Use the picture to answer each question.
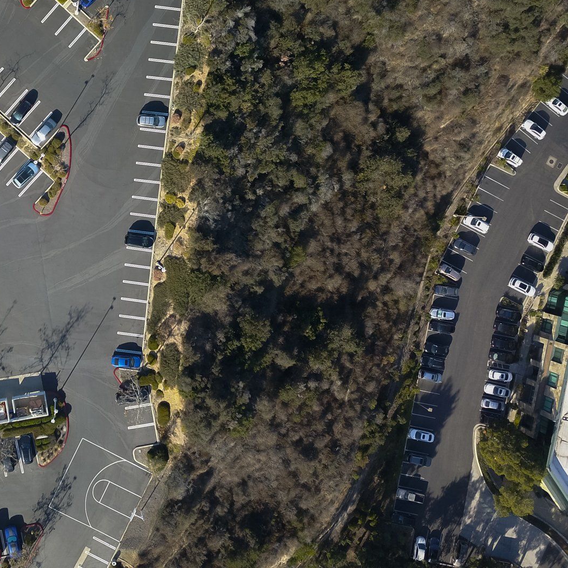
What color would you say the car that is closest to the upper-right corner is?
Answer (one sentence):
From above, the car that is closest to the upper-right corner appears white.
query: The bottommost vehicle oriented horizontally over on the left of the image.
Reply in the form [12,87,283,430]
[118,387,149,403]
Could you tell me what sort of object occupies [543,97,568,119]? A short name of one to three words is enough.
car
